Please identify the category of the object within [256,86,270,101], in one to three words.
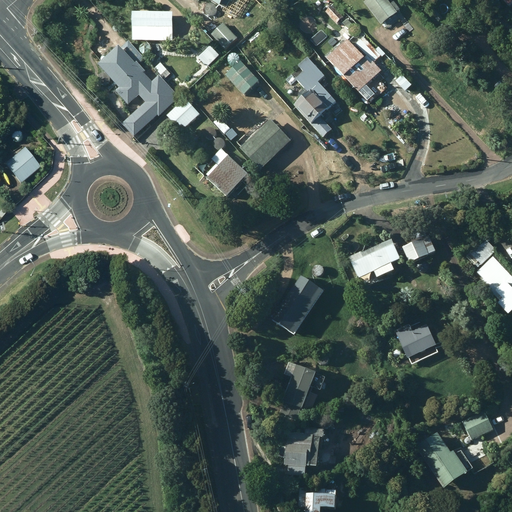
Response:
car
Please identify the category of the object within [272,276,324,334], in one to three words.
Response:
house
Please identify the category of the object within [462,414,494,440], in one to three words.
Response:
shed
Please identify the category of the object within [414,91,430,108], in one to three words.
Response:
vehicle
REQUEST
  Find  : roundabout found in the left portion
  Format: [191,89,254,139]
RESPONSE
[86,175,133,222]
